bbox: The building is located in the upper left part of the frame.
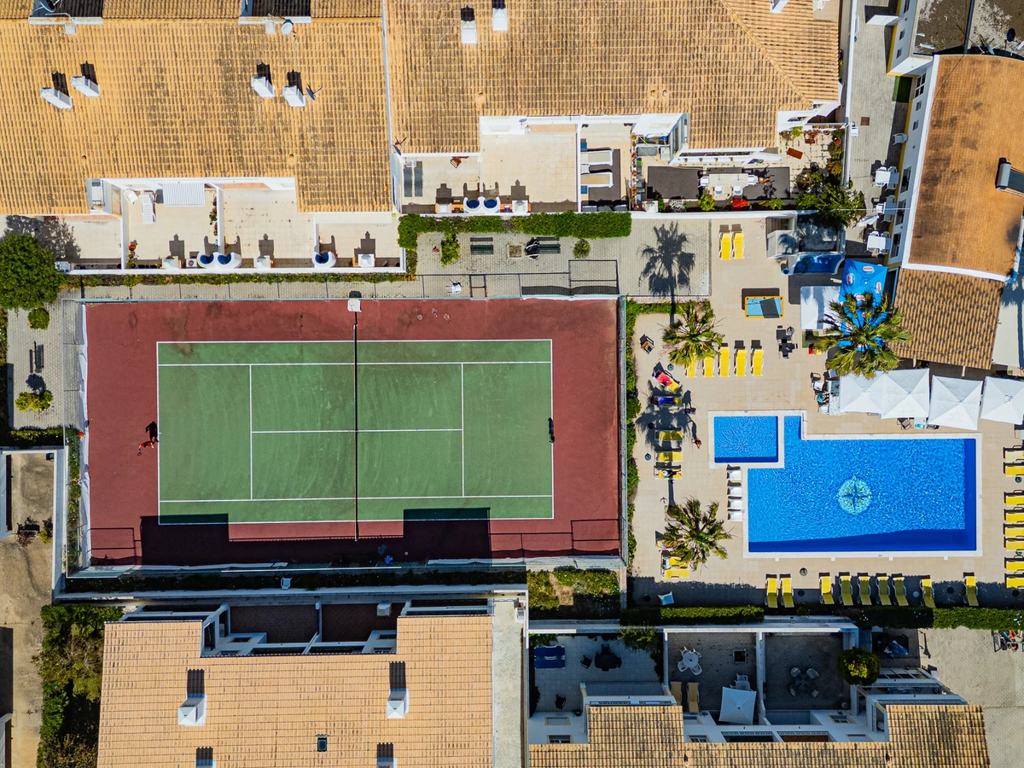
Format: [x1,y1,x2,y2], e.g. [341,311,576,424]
[0,0,400,229]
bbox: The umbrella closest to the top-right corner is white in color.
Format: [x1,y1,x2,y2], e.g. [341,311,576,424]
[849,216,881,228]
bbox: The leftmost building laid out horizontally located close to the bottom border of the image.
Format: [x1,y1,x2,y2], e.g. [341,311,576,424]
[89,590,494,768]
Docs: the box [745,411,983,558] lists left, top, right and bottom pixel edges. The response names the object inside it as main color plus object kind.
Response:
blue swimming pool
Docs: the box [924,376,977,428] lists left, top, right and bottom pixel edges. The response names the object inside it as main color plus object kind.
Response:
white umbrella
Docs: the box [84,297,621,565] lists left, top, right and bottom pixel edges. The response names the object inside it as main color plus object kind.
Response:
green tennis court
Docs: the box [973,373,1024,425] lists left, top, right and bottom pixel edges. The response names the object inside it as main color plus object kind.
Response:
white umbrella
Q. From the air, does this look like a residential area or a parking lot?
residential area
